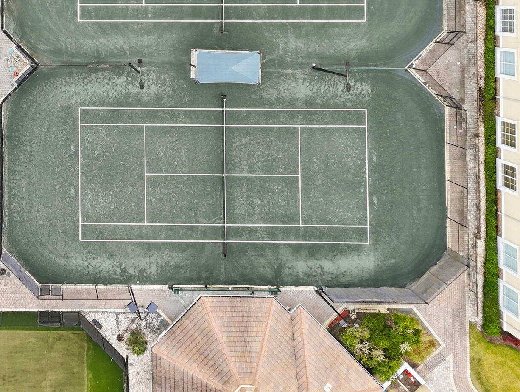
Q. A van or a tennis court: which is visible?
tennis court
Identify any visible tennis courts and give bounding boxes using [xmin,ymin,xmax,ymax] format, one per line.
[5,0,444,66]
[3,66,446,288]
